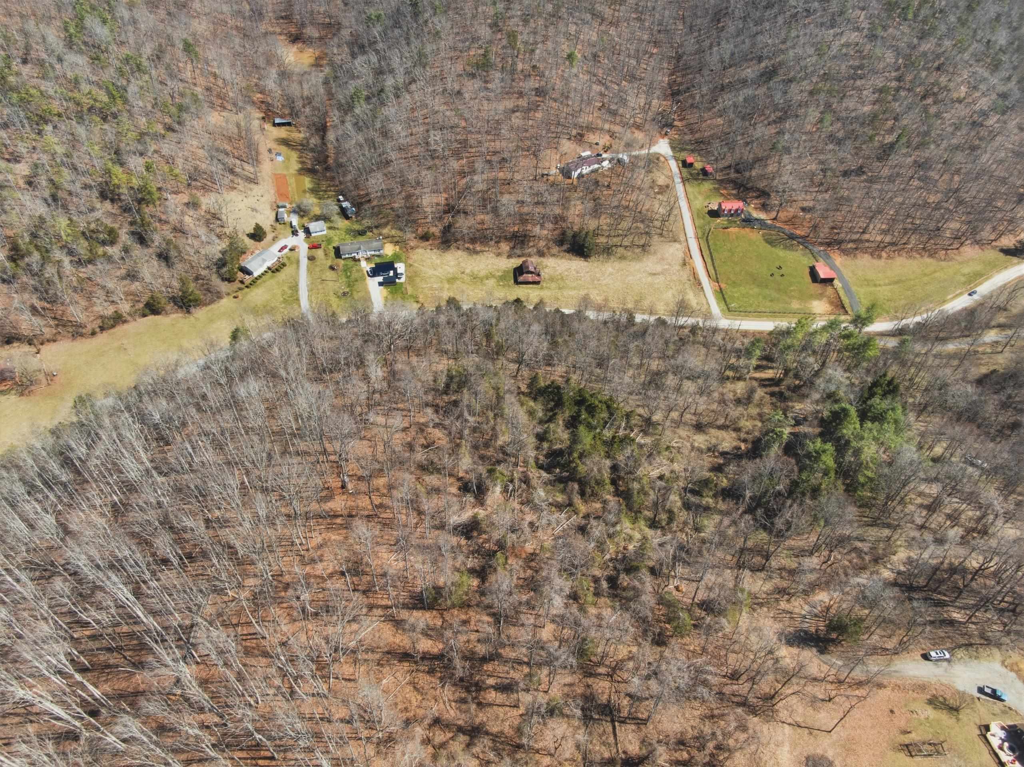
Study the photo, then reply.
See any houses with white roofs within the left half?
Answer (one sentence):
Yes, the scene does show a house with a white roof within the left half.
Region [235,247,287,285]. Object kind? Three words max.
house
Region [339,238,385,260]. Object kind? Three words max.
house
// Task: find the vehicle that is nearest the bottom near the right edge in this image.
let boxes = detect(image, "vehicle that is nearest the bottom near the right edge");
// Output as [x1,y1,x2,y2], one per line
[983,681,1015,707]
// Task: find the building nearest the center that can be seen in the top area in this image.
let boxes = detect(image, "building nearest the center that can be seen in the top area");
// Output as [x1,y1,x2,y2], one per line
[519,254,541,282]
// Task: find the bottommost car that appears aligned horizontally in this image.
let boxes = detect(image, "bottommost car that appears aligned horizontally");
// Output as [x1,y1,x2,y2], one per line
[927,649,955,662]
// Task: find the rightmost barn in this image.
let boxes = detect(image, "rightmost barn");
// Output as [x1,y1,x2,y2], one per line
[810,262,838,283]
